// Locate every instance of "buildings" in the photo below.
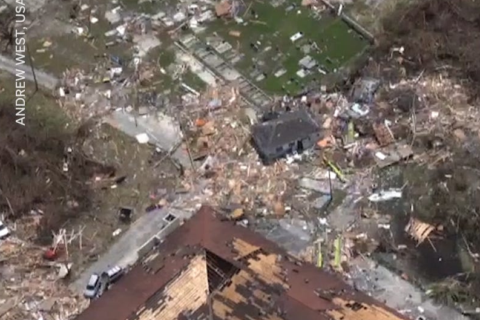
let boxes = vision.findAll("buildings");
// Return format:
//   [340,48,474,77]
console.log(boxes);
[249,106,323,161]
[75,205,415,320]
